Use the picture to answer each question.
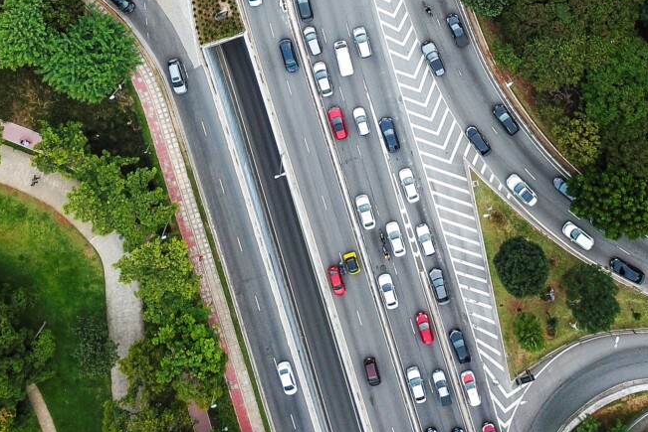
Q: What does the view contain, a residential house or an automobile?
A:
automobile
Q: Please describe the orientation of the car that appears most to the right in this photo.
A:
on a diagonal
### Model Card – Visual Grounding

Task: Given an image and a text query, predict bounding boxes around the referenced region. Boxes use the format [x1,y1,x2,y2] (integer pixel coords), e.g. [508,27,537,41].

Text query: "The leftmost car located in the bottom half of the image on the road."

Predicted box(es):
[277,360,298,395]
